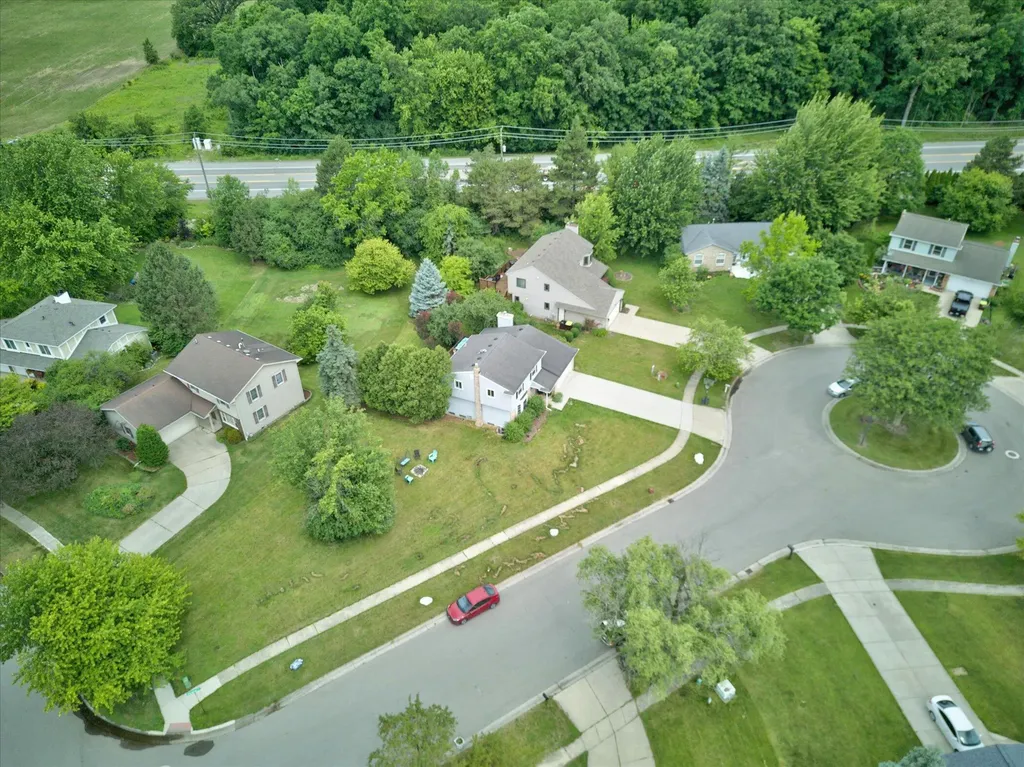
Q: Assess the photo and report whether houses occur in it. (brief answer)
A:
Yes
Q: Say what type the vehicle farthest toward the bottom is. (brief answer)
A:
car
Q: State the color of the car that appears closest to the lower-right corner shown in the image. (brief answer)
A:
white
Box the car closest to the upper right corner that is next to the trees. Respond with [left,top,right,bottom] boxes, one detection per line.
[950,291,972,317]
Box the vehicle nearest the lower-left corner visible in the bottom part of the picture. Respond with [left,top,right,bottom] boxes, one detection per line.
[448,582,504,627]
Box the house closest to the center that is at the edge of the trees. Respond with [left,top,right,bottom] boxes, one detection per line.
[440,308,579,427]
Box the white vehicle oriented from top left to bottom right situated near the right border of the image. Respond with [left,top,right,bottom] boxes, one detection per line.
[926,689,987,753]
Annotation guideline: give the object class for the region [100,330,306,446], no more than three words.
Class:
house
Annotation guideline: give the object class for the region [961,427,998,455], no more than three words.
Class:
car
